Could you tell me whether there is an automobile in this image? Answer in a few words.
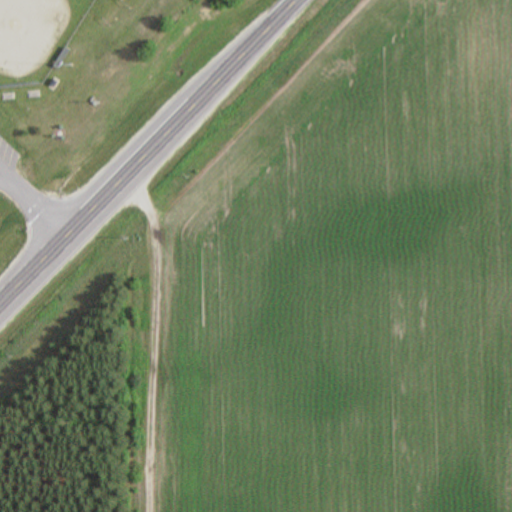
No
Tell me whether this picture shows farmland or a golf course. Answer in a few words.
farmland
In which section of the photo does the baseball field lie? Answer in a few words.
top left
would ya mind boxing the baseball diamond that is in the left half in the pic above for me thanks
[0,0,72,80]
